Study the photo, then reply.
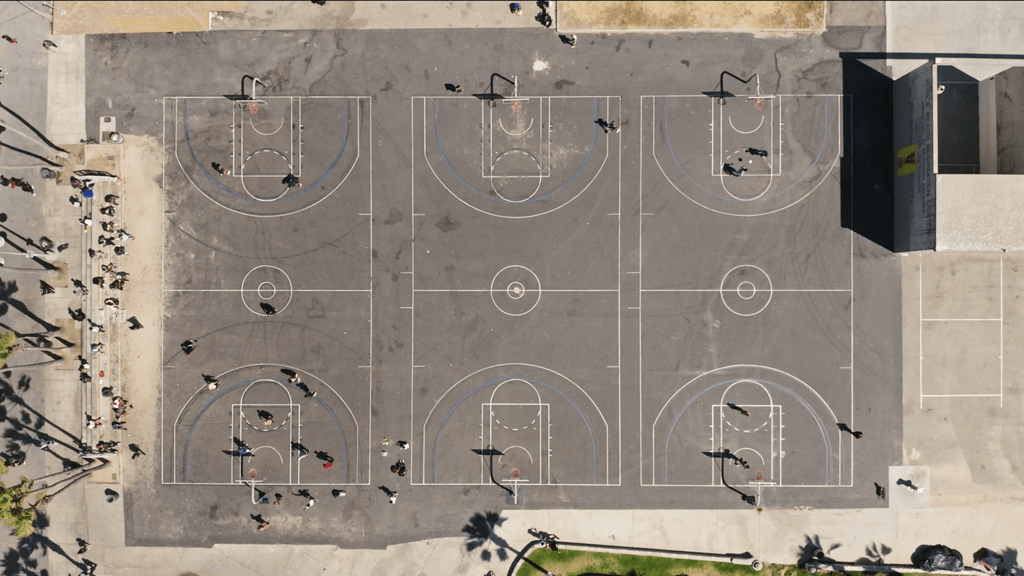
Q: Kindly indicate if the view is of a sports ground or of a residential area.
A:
sports ground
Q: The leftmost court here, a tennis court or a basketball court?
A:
basketball court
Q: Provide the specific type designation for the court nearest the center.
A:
basketball court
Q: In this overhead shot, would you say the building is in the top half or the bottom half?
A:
top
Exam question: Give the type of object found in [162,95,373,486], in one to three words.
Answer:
basketball court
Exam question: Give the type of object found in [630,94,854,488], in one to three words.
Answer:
basketball court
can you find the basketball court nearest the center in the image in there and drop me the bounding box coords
[400,95,623,487]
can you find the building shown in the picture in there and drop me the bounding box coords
[894,57,1024,256]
